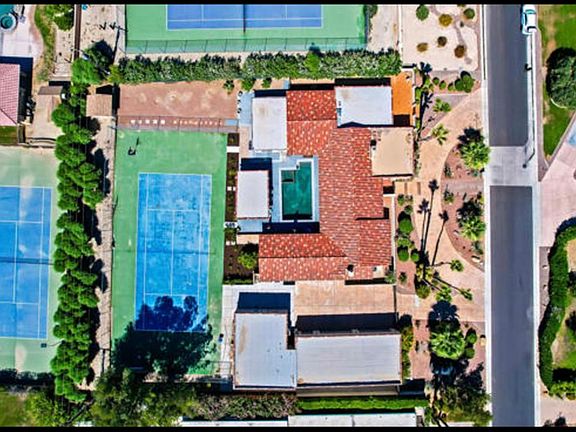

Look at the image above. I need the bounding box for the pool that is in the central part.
[280,160,314,221]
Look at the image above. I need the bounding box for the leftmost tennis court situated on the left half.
[0,148,62,376]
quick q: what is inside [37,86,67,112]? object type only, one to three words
shed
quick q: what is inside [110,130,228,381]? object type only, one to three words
tennis court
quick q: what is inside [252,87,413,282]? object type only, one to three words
house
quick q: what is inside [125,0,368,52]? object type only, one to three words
tennis court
